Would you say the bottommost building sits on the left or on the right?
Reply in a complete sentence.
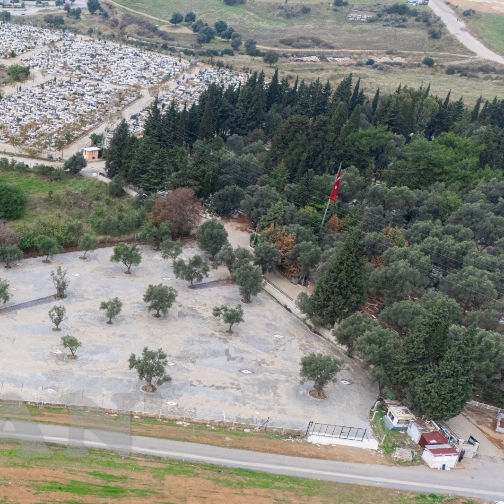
The bottommost building is on the right side of the image.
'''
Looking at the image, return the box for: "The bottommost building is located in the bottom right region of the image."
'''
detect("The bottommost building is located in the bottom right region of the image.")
[418,438,462,469]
